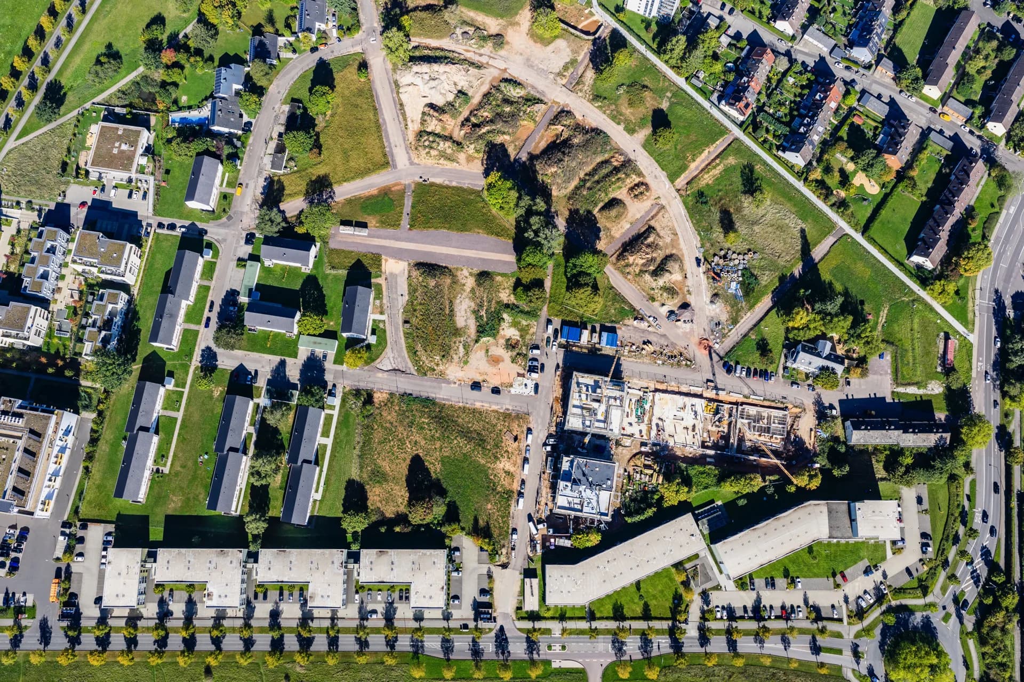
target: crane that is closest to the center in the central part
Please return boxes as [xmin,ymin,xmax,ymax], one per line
[576,351,619,463]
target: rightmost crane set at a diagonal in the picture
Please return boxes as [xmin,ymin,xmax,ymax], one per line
[712,405,798,484]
